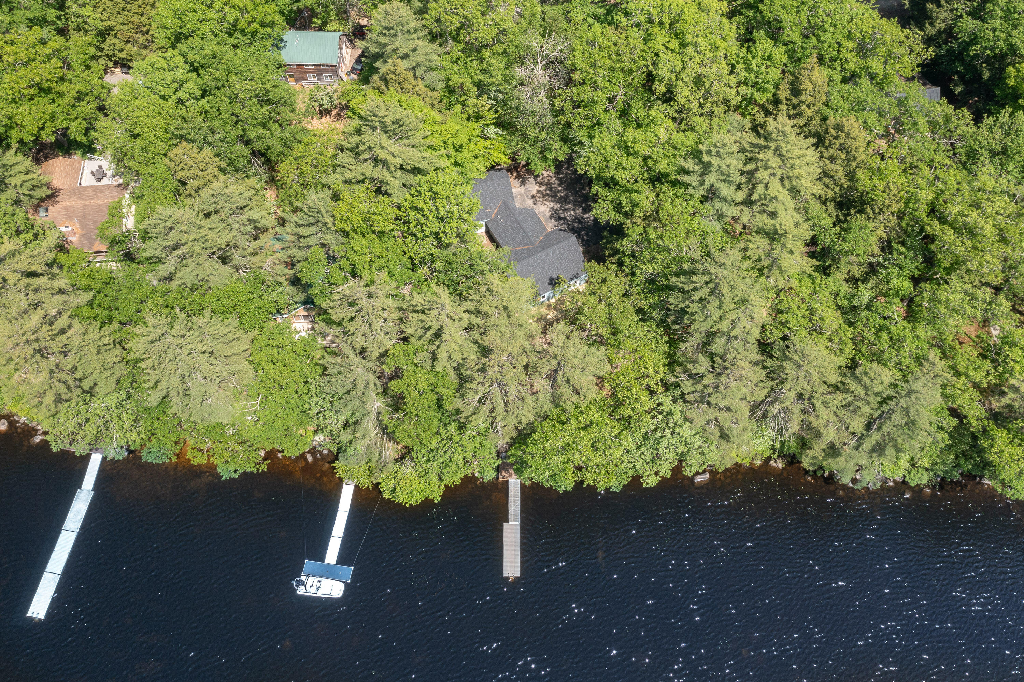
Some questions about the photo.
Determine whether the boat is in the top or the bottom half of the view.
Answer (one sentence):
The boat is in the bottom half of the image.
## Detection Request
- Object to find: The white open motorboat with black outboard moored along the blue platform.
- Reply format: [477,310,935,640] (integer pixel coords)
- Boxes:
[291,576,346,598]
